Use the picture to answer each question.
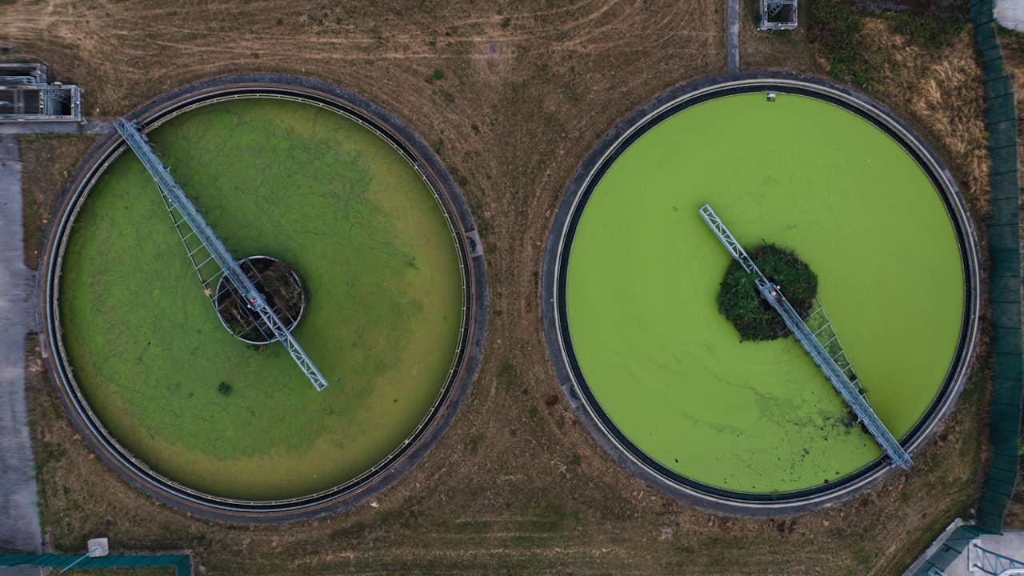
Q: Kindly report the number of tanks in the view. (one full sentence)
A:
Altogether the scene contains 2 tanks.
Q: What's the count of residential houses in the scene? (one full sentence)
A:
The count of residential houses is 0.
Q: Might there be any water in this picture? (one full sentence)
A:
Yes, water shows up in the scene.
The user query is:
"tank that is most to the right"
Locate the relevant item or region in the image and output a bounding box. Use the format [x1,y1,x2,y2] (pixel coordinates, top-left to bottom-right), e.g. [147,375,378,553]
[552,79,981,507]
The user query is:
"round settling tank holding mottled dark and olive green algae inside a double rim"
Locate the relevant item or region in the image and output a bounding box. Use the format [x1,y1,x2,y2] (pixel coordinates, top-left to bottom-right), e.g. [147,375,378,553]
[41,82,477,517]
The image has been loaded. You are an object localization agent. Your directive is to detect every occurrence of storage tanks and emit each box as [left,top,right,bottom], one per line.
[41,82,477,517]
[552,79,981,507]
